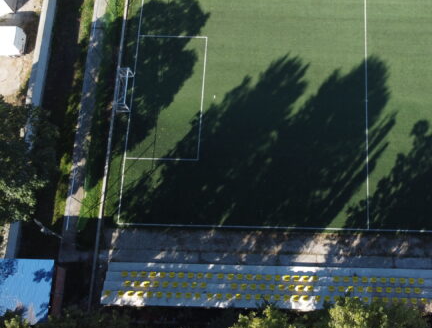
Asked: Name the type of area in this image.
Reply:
sports ground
